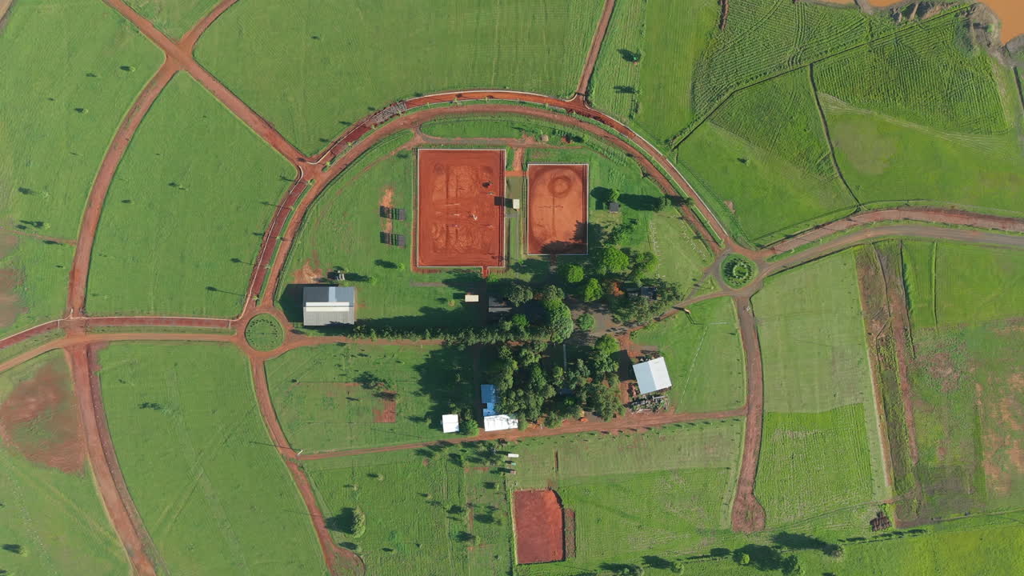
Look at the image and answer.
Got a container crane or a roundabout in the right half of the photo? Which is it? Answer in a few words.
roundabout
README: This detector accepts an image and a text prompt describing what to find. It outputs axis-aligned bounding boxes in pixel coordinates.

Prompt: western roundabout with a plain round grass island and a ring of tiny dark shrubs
[235,302,294,362]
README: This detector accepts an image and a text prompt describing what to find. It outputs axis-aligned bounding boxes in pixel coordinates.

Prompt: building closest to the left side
[302,287,356,326]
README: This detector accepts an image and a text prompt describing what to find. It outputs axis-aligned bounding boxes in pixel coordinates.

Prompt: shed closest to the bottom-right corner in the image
[632,357,672,394]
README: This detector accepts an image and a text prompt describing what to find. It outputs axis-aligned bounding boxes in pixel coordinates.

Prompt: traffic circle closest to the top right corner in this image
[712,243,767,299]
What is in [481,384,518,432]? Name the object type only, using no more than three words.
house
